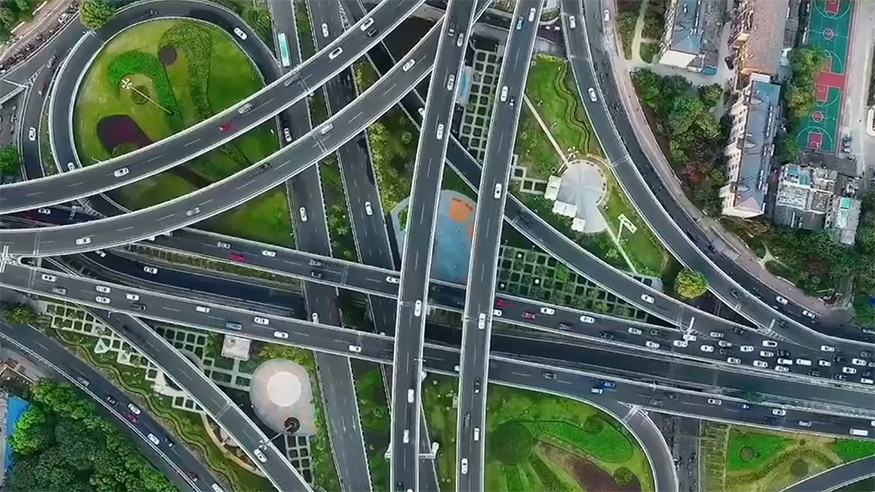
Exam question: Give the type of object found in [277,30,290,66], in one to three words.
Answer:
vehicle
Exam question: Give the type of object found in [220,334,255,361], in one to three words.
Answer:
building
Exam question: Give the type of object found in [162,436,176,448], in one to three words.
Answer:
vehicle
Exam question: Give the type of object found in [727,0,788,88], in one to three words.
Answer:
building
